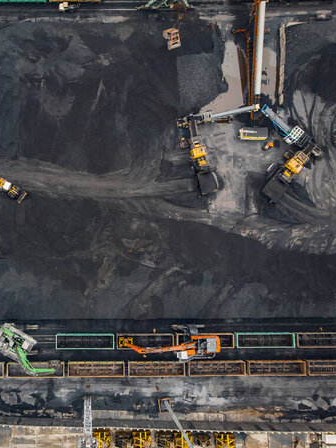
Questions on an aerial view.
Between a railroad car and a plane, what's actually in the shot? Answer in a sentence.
This aerial view contains a railroad car.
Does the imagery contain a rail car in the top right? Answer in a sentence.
No, no rail car appears in the top right.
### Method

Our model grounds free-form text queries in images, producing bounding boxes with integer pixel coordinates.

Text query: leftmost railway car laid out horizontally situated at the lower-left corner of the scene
[6,360,67,377]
